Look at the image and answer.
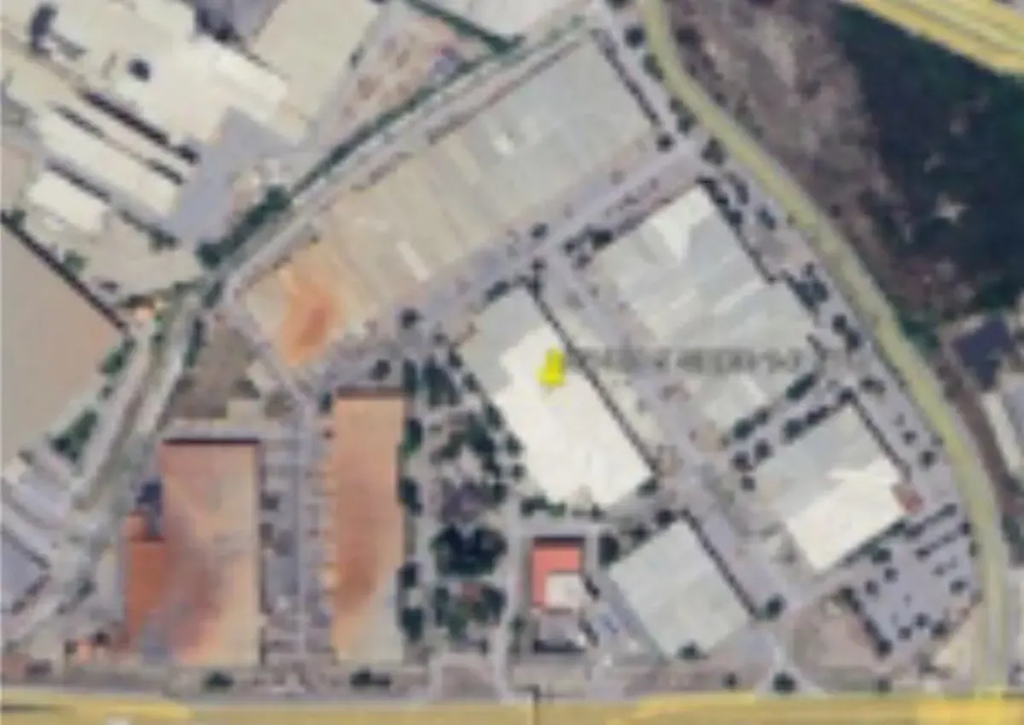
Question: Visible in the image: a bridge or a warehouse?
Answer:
warehouse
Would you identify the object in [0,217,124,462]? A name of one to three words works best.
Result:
warehouse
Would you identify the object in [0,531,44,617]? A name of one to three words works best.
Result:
building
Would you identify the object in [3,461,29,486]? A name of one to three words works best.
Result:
house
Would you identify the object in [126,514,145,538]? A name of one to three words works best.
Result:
shed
